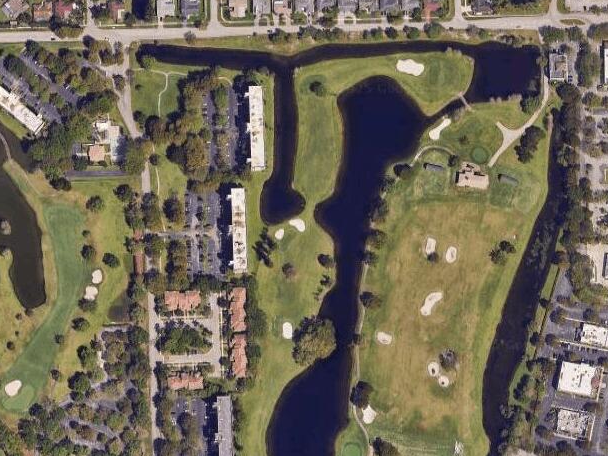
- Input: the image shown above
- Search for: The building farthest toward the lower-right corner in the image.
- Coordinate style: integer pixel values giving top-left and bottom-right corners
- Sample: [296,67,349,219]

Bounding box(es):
[556,409,594,441]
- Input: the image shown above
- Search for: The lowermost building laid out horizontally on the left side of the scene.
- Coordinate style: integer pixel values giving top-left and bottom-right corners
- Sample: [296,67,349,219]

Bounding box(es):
[168,372,204,391]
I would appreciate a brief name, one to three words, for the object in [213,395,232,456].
building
